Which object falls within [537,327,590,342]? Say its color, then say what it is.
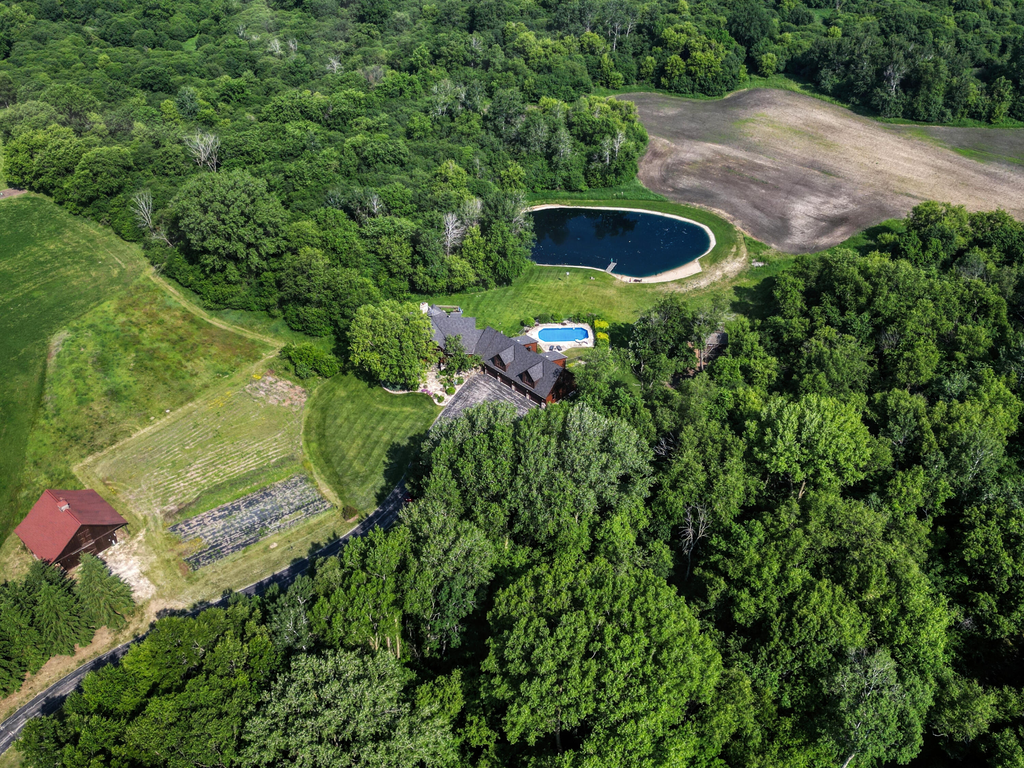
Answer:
blue swimming pool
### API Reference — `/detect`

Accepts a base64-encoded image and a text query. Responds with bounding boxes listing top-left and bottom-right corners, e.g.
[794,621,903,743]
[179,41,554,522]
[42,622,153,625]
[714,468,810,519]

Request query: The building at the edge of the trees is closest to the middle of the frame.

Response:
[419,293,577,410]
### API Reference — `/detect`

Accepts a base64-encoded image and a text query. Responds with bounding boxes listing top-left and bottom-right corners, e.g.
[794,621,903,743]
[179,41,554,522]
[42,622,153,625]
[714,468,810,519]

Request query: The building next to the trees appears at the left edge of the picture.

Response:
[16,490,127,568]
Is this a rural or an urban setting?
rural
